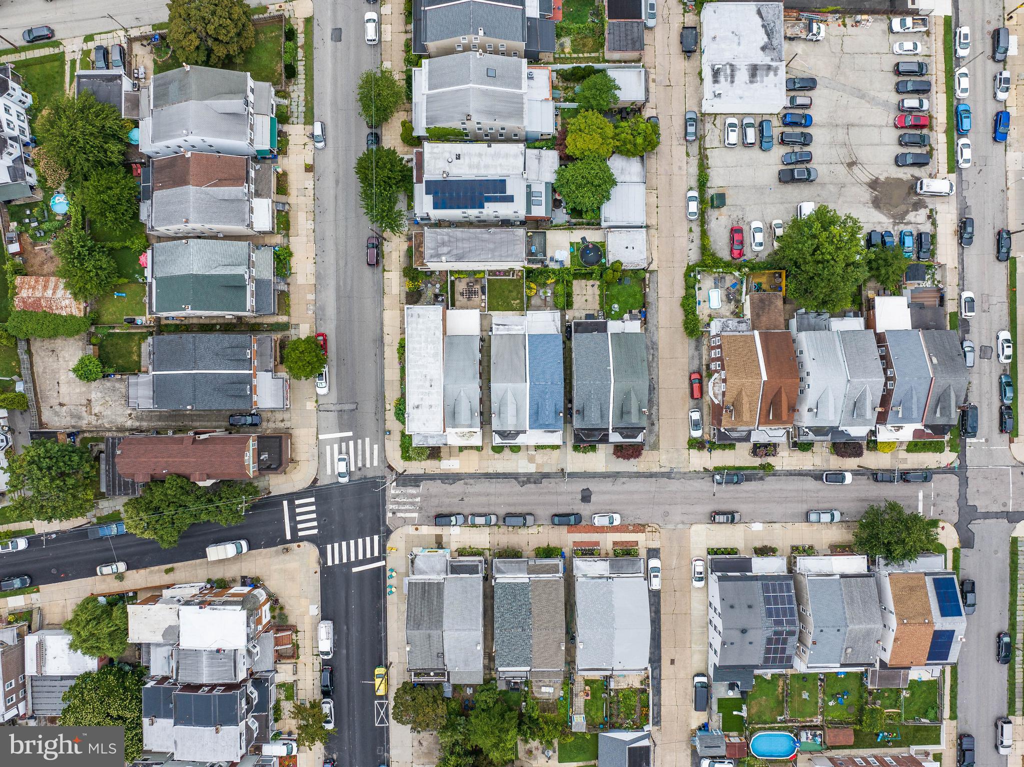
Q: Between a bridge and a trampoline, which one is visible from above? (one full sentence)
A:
The one in the frame is a trampoline.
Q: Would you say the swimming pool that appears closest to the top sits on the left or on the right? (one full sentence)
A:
You can find the swimming pool that appears closest to the top on the left side of the picture.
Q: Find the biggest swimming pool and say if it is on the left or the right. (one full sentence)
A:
The biggest swimming pool appears in the right half of the scene.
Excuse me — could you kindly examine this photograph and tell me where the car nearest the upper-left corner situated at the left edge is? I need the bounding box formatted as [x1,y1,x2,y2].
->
[22,25,55,43]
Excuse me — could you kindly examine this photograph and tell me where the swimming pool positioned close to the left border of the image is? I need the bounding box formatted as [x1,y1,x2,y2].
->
[50,194,71,215]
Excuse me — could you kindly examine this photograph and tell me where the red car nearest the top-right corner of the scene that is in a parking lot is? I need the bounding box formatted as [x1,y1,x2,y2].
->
[894,112,931,130]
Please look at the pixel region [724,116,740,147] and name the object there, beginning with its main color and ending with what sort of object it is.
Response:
white car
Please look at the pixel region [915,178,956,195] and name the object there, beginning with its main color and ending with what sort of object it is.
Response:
white vehicle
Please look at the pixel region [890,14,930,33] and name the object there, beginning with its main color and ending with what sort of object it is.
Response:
white vehicle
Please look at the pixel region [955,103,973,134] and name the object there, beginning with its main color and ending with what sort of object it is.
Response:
blue car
